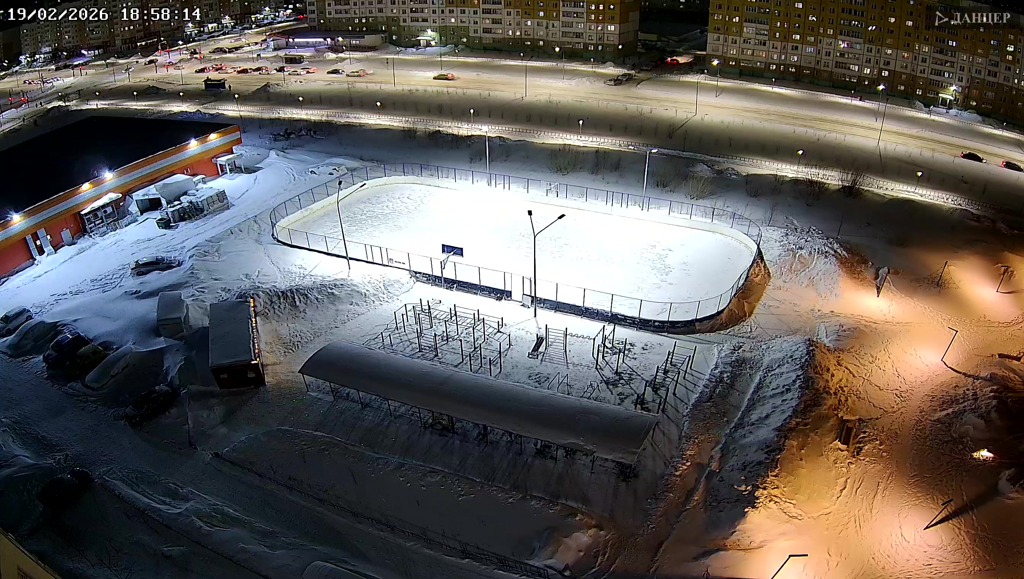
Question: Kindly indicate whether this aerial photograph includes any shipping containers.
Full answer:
Yes, a shipping container appears in the view.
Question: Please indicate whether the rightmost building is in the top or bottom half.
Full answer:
The top half of the photo is where the rightmost building is.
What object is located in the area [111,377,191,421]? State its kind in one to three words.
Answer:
car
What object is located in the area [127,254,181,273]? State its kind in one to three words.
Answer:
car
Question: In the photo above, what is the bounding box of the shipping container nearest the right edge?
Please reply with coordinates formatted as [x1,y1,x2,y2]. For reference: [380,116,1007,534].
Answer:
[196,304,264,389]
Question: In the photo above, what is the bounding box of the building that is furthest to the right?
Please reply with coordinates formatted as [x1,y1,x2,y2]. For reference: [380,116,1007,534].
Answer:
[707,0,1024,136]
